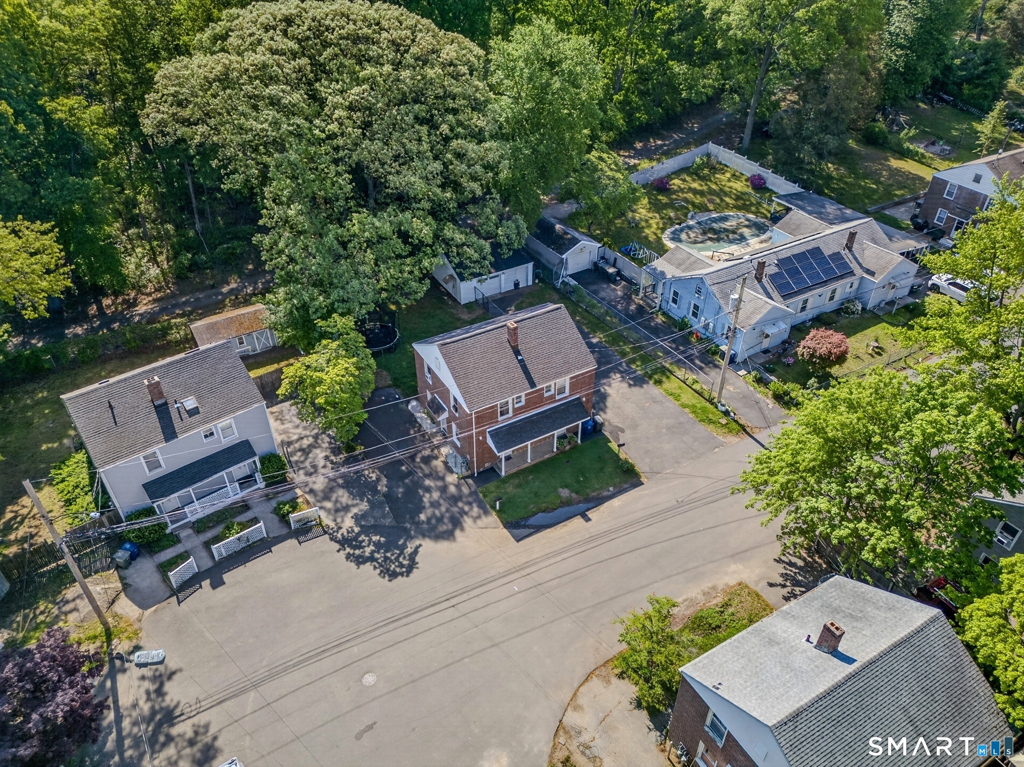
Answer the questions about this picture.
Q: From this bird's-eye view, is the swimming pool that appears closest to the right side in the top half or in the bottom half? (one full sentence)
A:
You can find the swimming pool that appears closest to the right side in the top half.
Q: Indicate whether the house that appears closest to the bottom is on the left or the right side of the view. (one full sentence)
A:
The house that appears closest to the bottom sits on the right side.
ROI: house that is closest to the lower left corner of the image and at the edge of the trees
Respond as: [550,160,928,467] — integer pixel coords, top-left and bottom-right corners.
[62,339,276,540]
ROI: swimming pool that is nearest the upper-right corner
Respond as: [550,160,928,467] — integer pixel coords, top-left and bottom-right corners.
[659,211,779,262]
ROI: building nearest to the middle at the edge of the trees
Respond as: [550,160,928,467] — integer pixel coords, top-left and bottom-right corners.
[412,304,598,481]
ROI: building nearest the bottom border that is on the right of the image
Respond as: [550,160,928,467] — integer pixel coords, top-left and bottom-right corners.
[669,576,1016,767]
